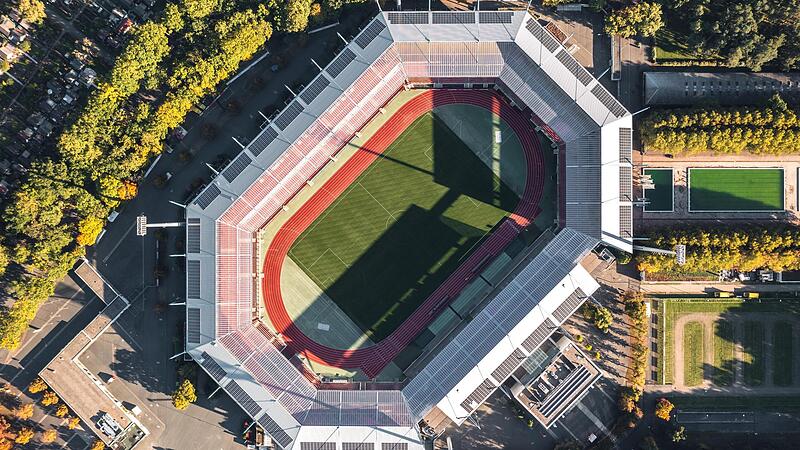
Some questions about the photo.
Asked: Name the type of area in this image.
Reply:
sports ground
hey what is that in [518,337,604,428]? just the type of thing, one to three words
building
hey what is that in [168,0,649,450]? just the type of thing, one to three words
stadium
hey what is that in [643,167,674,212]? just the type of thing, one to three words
swimming pool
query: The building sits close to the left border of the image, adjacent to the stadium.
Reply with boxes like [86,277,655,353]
[38,260,156,450]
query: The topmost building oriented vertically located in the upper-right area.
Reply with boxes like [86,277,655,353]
[609,37,623,82]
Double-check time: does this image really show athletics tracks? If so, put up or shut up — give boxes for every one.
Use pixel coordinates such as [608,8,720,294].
[257,82,560,384]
